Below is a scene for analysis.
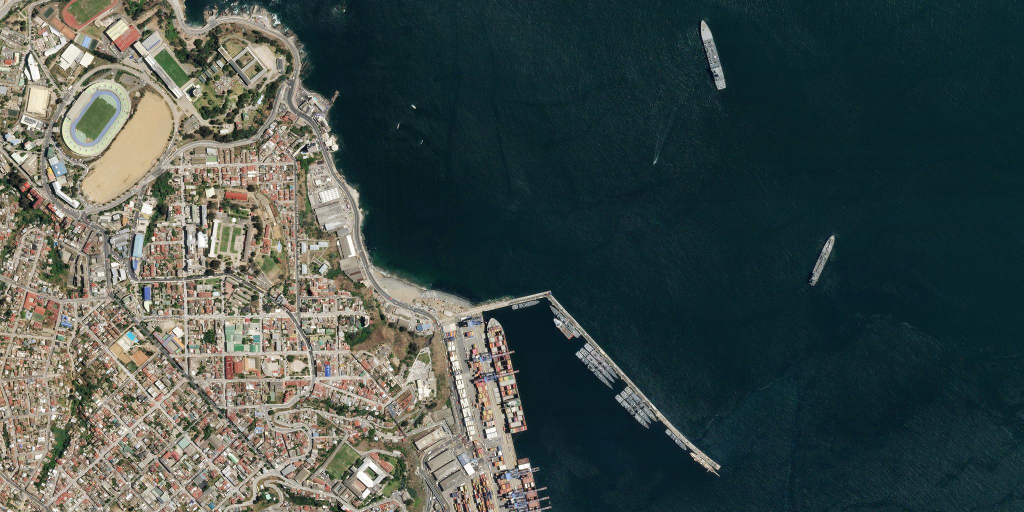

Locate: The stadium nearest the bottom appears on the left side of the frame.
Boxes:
[57,80,132,157]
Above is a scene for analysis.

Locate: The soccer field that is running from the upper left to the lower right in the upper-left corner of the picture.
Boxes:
[150,44,194,92]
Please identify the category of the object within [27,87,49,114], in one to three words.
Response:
building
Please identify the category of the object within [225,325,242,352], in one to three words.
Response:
building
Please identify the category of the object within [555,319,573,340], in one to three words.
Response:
vessel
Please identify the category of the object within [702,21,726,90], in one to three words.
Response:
ship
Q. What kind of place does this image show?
port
